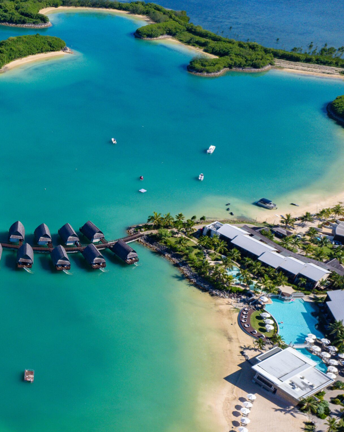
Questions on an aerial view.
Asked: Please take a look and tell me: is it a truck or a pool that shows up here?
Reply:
pool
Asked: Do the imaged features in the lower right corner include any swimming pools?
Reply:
Yes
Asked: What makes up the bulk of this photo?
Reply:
water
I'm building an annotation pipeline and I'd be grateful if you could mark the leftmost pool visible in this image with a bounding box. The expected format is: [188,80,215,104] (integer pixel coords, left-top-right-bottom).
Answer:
[225,265,268,294]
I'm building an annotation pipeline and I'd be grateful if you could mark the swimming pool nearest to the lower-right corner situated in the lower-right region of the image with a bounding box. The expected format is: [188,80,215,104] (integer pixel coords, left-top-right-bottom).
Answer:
[294,348,329,374]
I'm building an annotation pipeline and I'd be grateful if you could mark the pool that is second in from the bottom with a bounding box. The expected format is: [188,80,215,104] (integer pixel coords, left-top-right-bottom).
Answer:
[262,297,326,345]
